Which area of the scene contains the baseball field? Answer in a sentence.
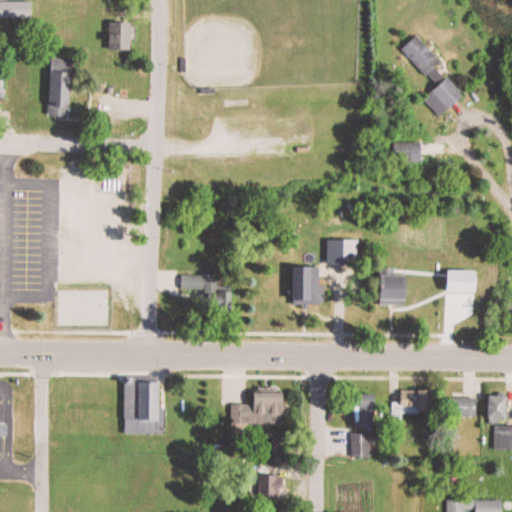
The baseball field is in the top part of the image.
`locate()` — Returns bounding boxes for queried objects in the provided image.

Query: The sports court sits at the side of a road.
[56,283,112,329]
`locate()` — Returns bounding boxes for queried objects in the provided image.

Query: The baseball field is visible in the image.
[184,0,356,88]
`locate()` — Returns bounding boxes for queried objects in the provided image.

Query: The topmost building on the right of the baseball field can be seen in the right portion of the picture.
[402,38,464,110]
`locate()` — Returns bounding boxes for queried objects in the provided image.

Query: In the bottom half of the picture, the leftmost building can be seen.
[124,376,164,434]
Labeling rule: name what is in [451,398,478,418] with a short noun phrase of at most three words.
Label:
house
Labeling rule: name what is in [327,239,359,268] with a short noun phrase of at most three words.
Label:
building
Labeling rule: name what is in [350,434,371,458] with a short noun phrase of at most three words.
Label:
building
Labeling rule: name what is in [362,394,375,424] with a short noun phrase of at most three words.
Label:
house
